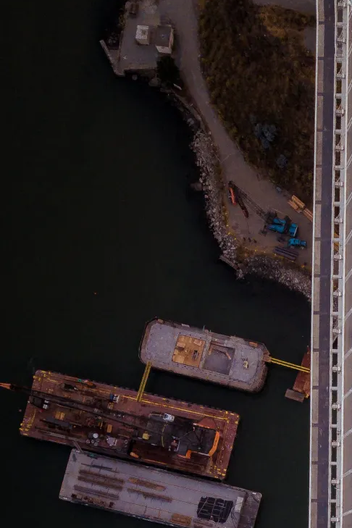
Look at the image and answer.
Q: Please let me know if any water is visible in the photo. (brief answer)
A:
Yes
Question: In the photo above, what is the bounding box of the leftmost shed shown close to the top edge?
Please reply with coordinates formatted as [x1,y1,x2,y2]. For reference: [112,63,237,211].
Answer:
[136,26,153,47]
